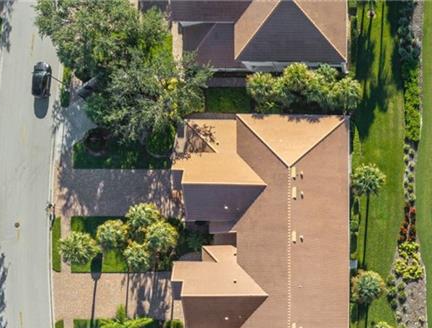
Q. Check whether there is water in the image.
No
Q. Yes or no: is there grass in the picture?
Yes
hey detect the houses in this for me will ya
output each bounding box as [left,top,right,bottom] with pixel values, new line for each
[172,114,350,328]
[167,0,348,75]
